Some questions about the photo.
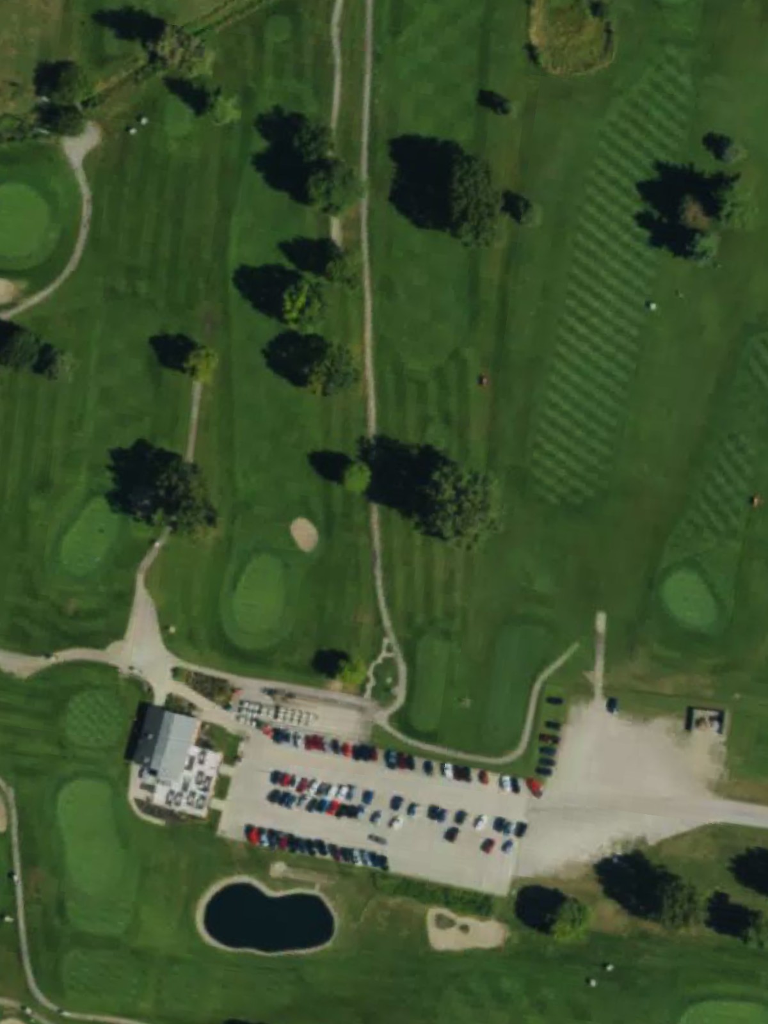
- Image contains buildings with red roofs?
No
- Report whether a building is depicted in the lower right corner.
No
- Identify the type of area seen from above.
golf course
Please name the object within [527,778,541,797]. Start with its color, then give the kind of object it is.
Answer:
red vehicle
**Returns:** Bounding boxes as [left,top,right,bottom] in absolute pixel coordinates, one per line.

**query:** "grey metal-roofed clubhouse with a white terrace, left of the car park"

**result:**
[133,705,200,782]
